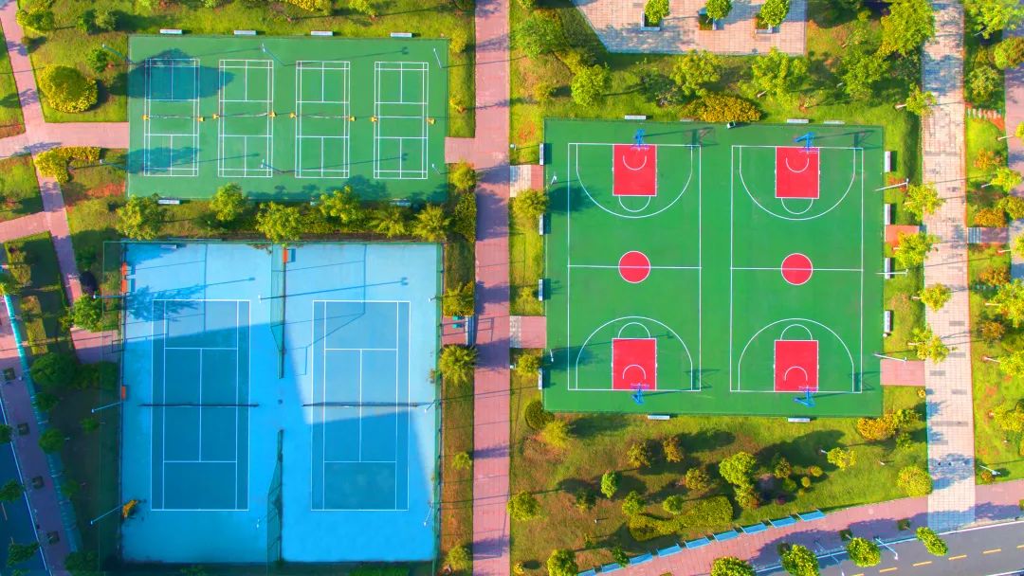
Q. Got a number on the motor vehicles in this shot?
0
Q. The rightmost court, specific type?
basketball court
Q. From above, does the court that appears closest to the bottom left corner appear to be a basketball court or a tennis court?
tennis court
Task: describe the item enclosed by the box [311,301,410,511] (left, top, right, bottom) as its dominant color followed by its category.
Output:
blue tennis court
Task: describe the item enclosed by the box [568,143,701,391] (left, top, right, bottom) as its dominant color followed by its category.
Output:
green basketball court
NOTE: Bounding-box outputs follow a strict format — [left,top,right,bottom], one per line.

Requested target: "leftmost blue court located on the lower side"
[151,300,250,511]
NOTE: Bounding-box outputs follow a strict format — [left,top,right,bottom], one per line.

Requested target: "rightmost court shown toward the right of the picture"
[730,145,863,393]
